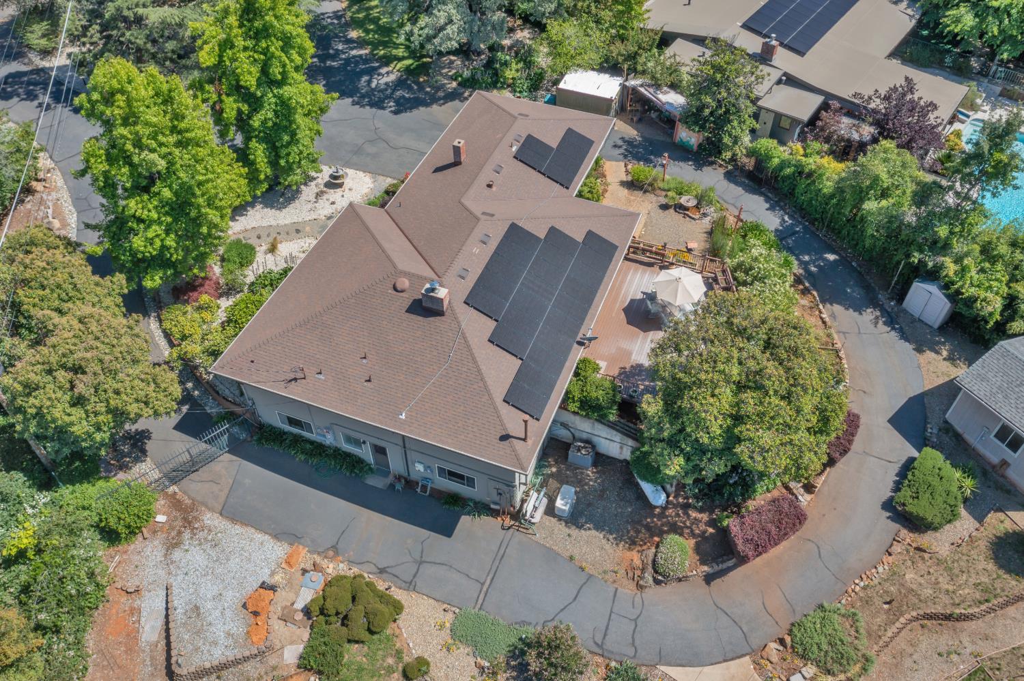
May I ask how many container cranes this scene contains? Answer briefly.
0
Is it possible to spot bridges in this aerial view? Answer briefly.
No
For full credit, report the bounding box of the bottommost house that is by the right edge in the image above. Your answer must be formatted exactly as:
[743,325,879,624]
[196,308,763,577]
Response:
[948,340,1024,480]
